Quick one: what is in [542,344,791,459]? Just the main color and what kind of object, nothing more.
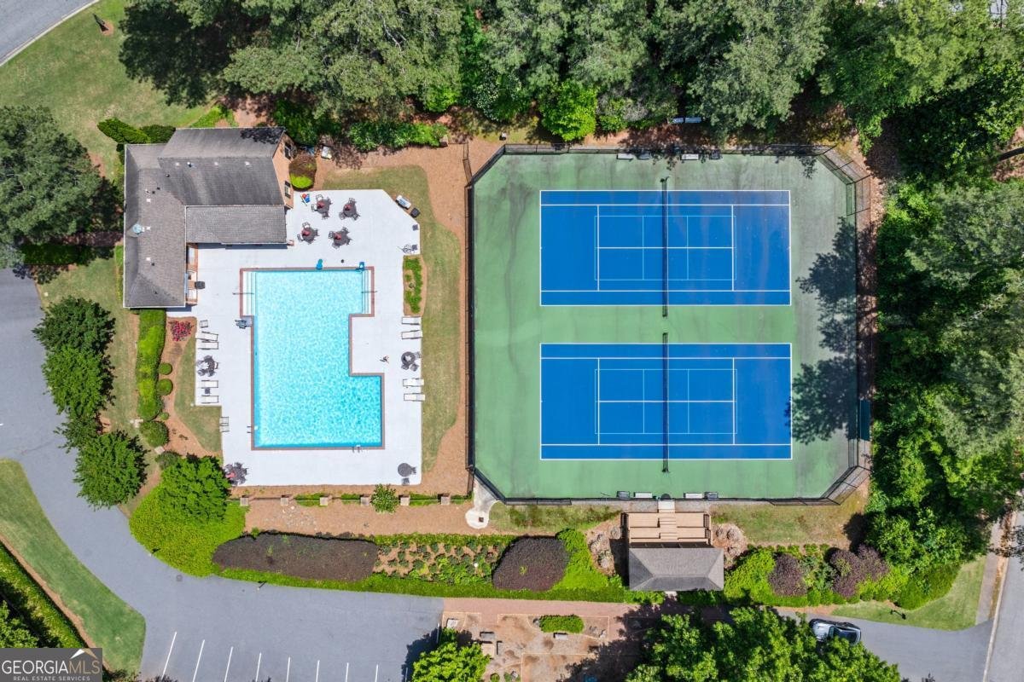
blue tennis court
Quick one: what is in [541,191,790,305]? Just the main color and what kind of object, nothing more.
blue tennis court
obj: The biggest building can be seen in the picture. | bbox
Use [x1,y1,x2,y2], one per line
[123,127,294,309]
